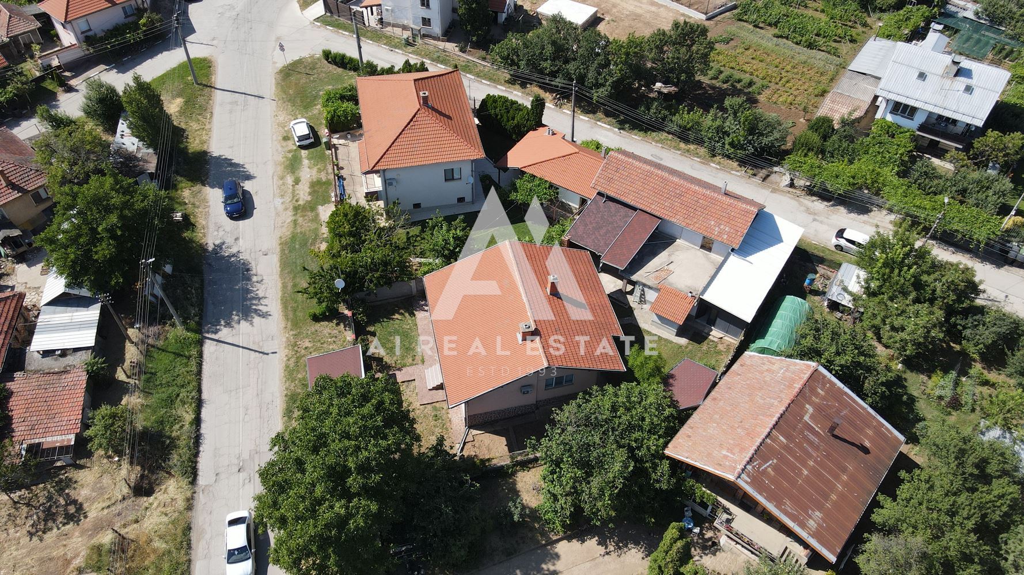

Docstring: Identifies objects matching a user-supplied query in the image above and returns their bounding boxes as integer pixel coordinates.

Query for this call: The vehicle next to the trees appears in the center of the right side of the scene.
[834,230,882,262]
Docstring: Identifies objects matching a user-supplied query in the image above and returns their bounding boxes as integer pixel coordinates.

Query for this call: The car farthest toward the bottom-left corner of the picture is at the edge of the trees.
[221,511,256,575]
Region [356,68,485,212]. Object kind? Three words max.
house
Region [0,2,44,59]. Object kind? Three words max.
house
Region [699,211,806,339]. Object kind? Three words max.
building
